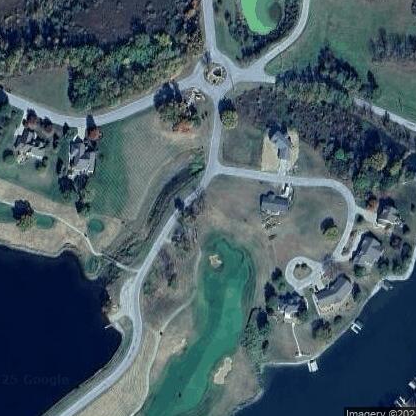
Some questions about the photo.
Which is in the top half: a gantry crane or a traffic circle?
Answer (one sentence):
Looking in the top half, you will find a traffic circle.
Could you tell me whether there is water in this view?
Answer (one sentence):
Yes, water can be seen from above here.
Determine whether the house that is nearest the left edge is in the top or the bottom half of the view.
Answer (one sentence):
The house that is nearest the left edge sits in the top half of the picture.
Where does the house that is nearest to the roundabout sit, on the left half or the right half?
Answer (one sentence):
The house that is nearest to the roundabout sits on the right side.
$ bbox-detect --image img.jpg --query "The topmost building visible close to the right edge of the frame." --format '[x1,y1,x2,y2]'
[378,205,404,234]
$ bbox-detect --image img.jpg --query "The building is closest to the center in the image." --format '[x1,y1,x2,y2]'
[261,193,290,228]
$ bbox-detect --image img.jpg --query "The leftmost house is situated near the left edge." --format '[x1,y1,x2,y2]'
[17,127,46,159]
